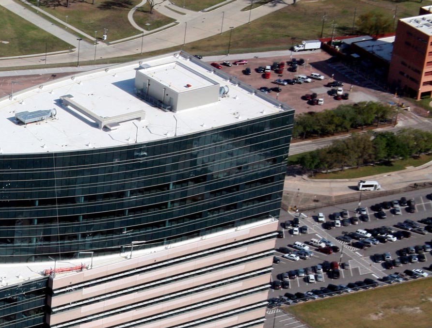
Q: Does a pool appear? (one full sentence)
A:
No, no pool can be seen from above.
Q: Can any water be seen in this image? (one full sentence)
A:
No, no water is visible.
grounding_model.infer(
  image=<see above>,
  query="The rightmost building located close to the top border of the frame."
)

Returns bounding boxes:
[388,5,432,99]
